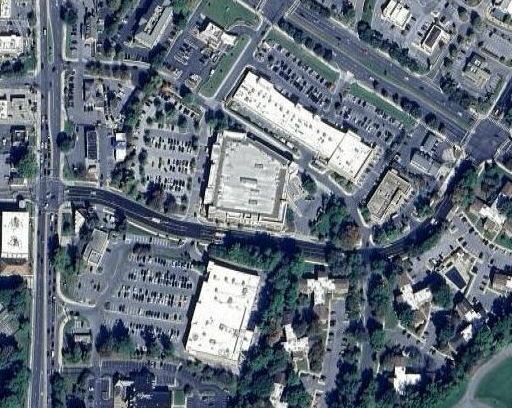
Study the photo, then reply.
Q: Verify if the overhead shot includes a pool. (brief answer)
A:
Yes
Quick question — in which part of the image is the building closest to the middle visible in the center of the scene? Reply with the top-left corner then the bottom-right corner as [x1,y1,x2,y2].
[205,131,293,228]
